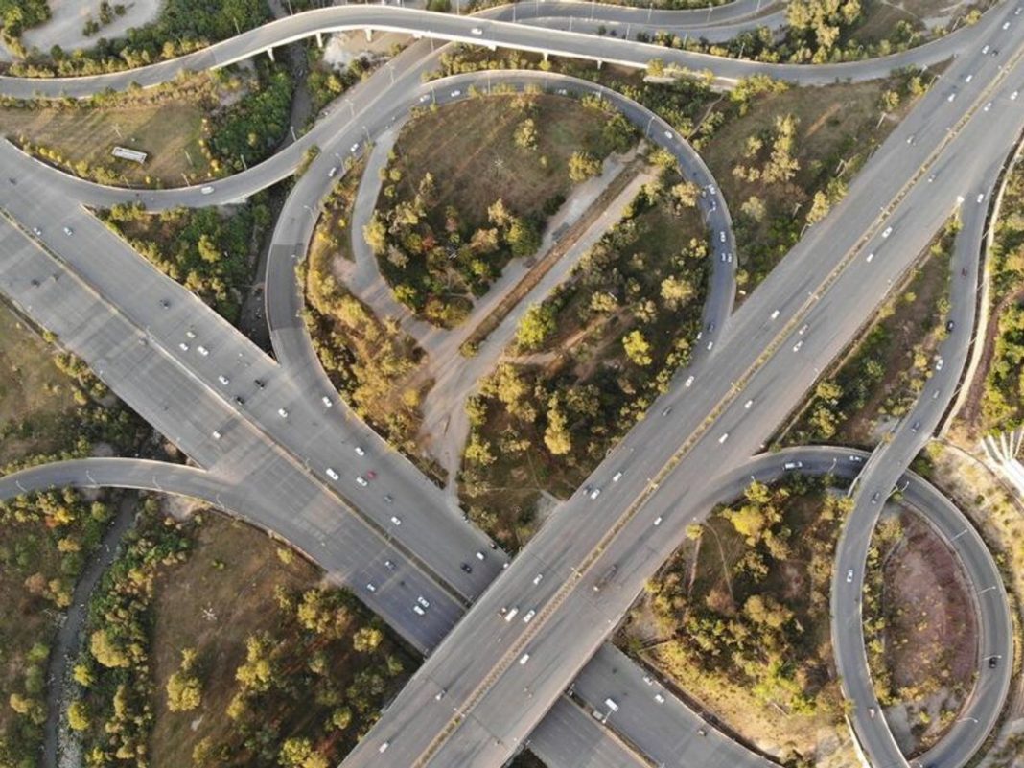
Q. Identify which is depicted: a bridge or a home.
bridge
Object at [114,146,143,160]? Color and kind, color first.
white vehicle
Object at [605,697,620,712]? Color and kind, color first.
white vehicle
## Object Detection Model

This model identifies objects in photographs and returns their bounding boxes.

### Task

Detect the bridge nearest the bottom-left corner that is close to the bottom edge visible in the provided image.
[380,552,638,749]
